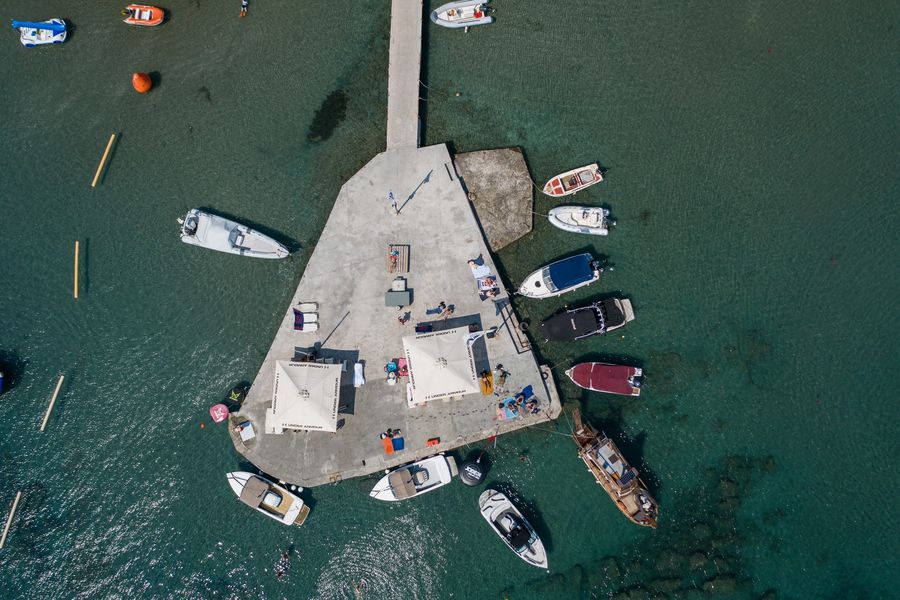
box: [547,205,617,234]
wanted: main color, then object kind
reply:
white boat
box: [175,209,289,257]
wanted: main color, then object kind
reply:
white boat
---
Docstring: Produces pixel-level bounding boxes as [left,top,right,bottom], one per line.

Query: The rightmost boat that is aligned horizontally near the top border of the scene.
[429,0,499,32]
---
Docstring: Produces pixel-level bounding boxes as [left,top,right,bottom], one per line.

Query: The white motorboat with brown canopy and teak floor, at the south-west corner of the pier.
[225,472,310,524]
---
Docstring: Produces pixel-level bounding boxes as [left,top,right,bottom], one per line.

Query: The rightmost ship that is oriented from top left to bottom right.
[569,408,659,532]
